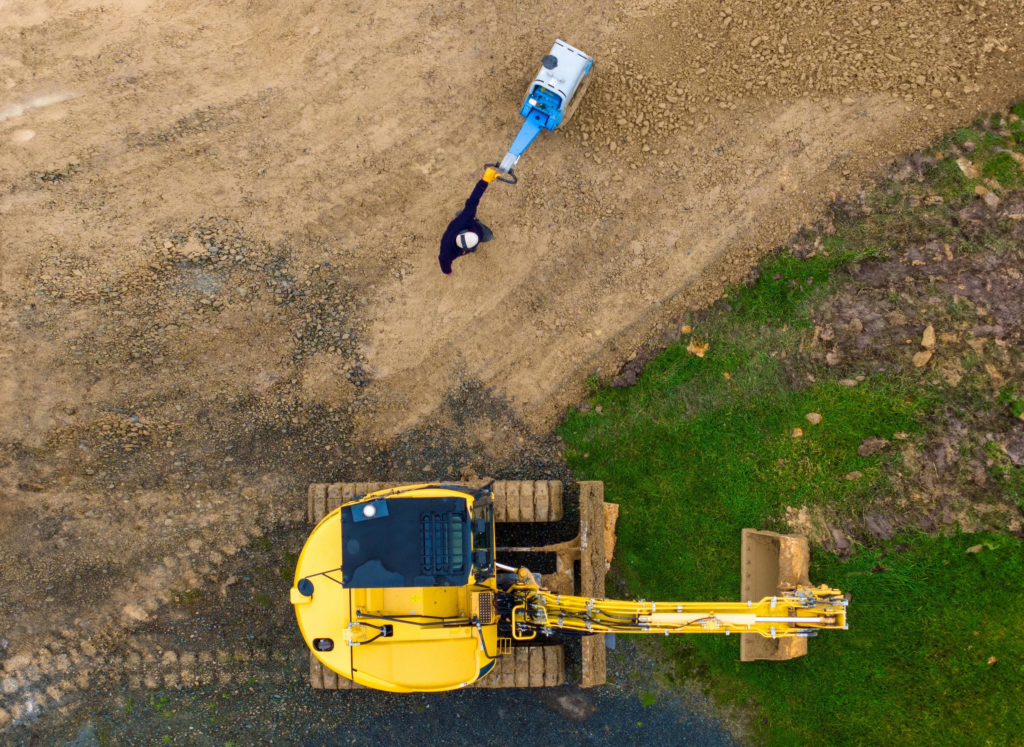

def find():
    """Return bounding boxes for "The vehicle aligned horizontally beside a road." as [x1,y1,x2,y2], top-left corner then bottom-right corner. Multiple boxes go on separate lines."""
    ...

[291,476,849,692]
